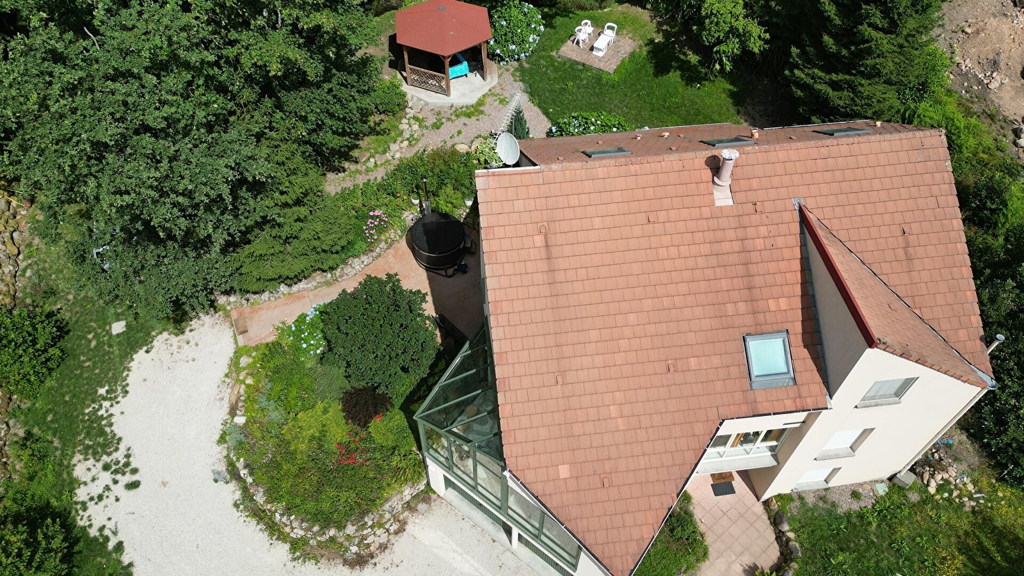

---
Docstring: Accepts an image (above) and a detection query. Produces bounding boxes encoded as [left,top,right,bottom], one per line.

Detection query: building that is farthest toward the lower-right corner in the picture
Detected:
[412,116,1012,576]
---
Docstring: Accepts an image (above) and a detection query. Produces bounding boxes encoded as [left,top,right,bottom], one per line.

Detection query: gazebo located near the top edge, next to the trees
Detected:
[395,0,492,93]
